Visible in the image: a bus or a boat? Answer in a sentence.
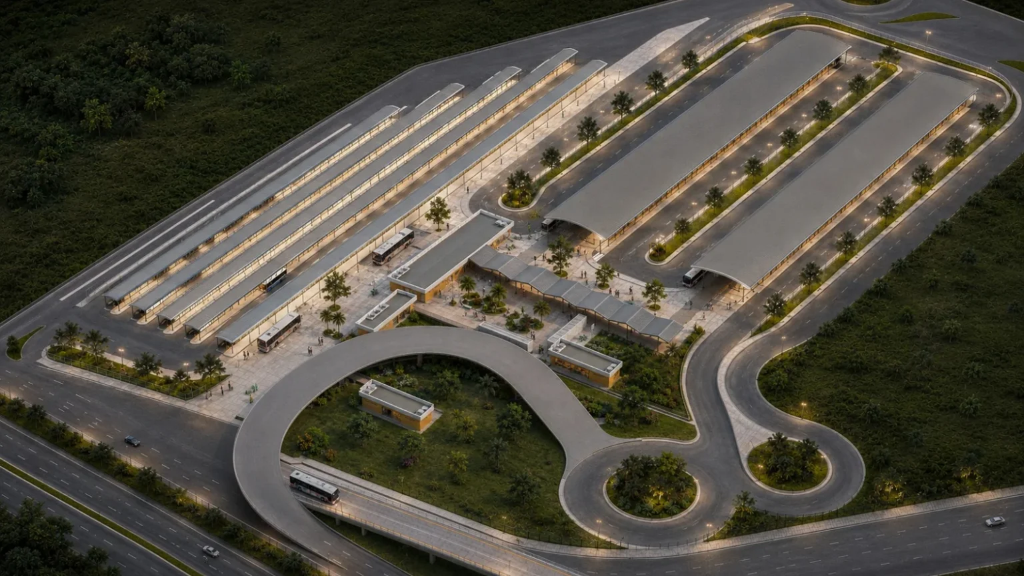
Looking from above, you can make out a bus.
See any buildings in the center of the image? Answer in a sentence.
Yes, I can see a building in the center of the image.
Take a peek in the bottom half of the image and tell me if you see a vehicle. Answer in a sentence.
Yes, the scene does show a vehicle in the bottom half of the image.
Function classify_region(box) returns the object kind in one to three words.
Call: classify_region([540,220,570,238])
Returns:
vehicle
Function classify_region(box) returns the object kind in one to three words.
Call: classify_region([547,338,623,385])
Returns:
building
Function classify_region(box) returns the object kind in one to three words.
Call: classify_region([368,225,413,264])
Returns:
bus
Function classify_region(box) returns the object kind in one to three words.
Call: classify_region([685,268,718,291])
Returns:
bus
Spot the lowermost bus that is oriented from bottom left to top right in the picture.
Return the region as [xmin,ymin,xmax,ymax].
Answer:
[252,310,300,351]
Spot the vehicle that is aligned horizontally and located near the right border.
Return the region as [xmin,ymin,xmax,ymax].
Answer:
[982,514,1008,527]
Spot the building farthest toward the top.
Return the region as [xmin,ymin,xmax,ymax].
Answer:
[388,209,515,304]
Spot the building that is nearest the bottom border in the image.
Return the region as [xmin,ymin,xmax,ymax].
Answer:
[356,379,437,429]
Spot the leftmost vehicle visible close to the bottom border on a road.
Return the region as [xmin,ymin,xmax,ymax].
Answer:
[199,542,222,559]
